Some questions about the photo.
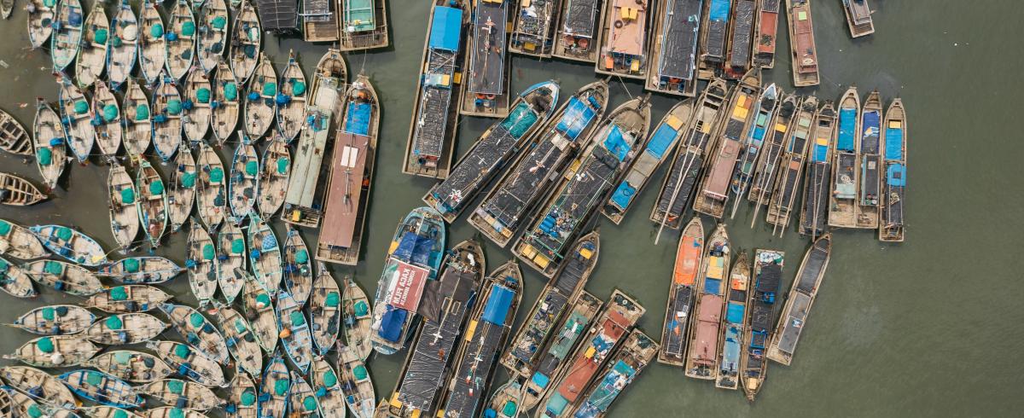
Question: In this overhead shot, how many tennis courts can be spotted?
zero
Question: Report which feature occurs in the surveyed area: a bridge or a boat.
boat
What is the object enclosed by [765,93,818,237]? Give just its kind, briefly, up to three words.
boat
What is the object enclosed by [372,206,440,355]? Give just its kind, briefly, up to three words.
boat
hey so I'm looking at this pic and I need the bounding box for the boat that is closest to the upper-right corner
[843,0,876,38]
